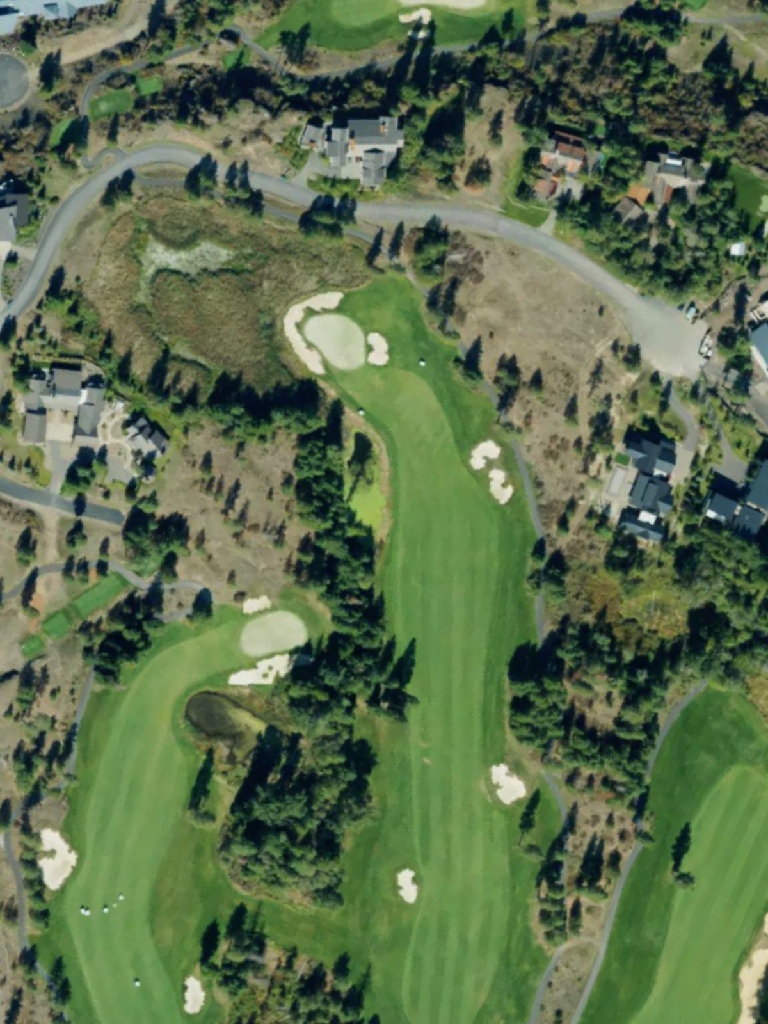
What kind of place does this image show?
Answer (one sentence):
This looks like a golf course.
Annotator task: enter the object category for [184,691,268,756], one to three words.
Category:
pond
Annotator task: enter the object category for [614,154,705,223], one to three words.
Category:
house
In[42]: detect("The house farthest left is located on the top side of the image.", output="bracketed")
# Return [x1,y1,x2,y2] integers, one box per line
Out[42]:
[0,191,29,241]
